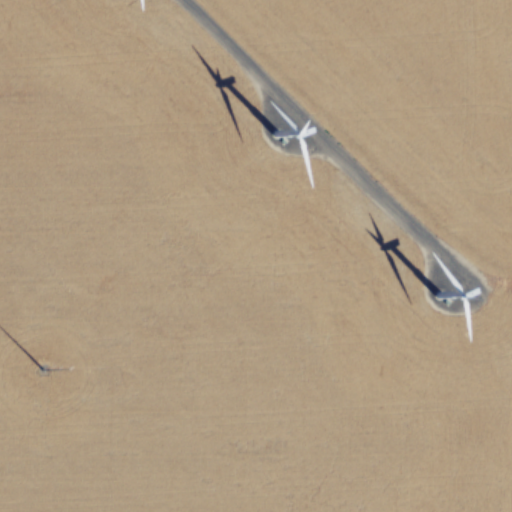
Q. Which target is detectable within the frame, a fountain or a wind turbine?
wind turbine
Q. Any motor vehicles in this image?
No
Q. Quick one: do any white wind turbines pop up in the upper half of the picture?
Yes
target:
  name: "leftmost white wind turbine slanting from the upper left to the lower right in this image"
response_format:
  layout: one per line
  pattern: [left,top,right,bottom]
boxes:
[270,100,318,188]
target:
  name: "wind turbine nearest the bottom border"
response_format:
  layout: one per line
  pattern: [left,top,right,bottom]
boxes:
[434,252,482,340]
